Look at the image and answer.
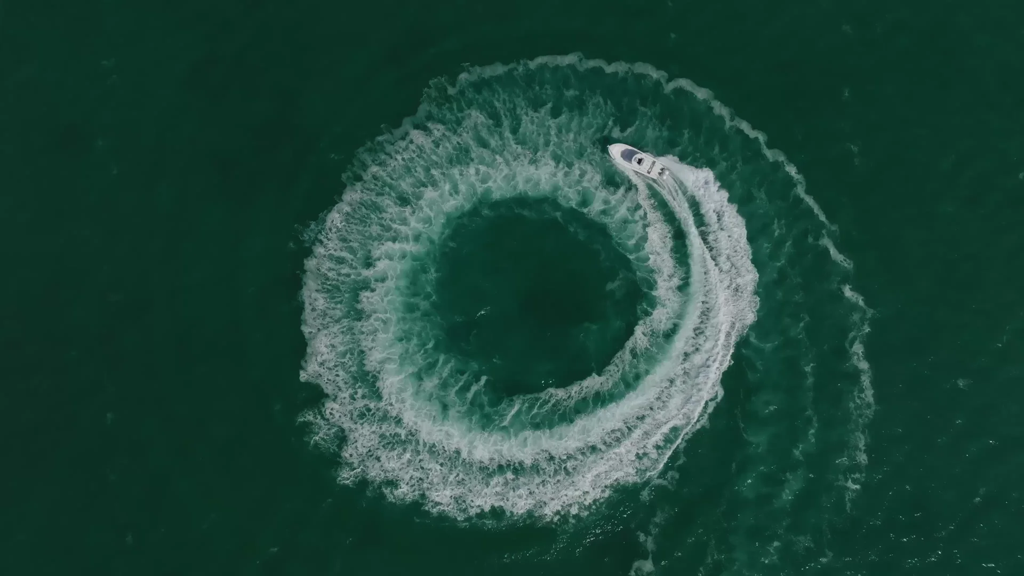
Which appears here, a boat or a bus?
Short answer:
boat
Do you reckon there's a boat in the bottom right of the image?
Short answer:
No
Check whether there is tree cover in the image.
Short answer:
No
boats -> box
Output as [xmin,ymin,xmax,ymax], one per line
[606,143,664,181]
